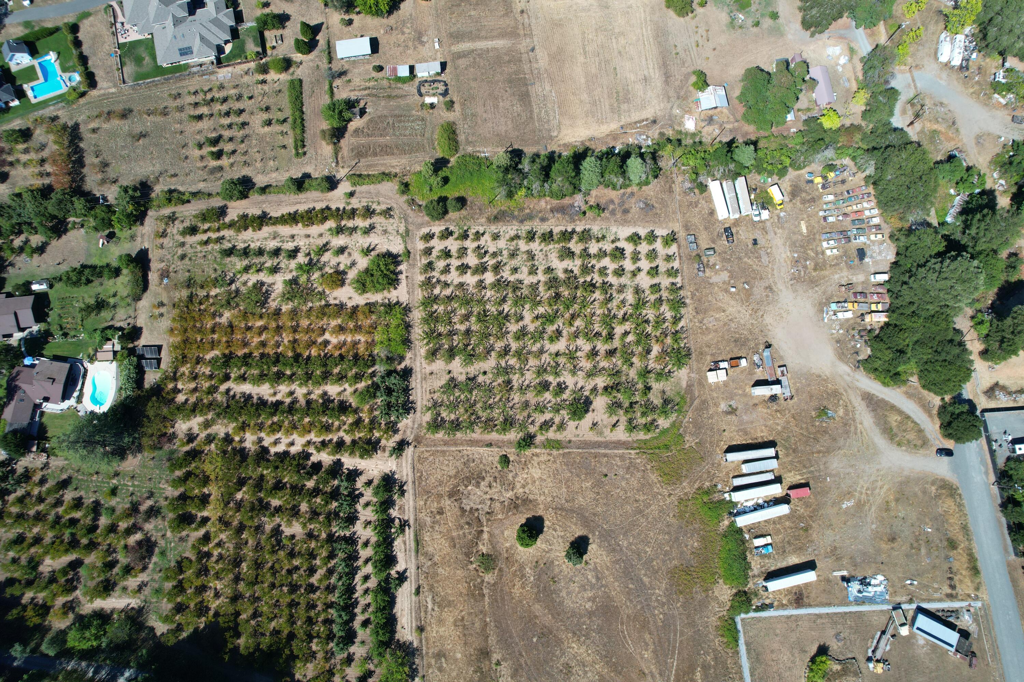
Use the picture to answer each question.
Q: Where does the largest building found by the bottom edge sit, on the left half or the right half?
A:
right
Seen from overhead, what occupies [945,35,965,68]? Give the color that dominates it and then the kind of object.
white camper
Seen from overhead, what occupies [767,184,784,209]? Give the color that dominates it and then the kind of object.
white vehicle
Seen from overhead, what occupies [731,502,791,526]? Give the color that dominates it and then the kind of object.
white trailer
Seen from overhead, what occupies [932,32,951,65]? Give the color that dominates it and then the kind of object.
white camper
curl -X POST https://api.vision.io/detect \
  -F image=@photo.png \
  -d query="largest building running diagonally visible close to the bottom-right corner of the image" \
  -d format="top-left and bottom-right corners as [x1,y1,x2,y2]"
[906,609,960,652]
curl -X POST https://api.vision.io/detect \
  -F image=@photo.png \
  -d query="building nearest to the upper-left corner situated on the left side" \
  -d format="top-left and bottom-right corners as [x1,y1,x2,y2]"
[1,38,36,66]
